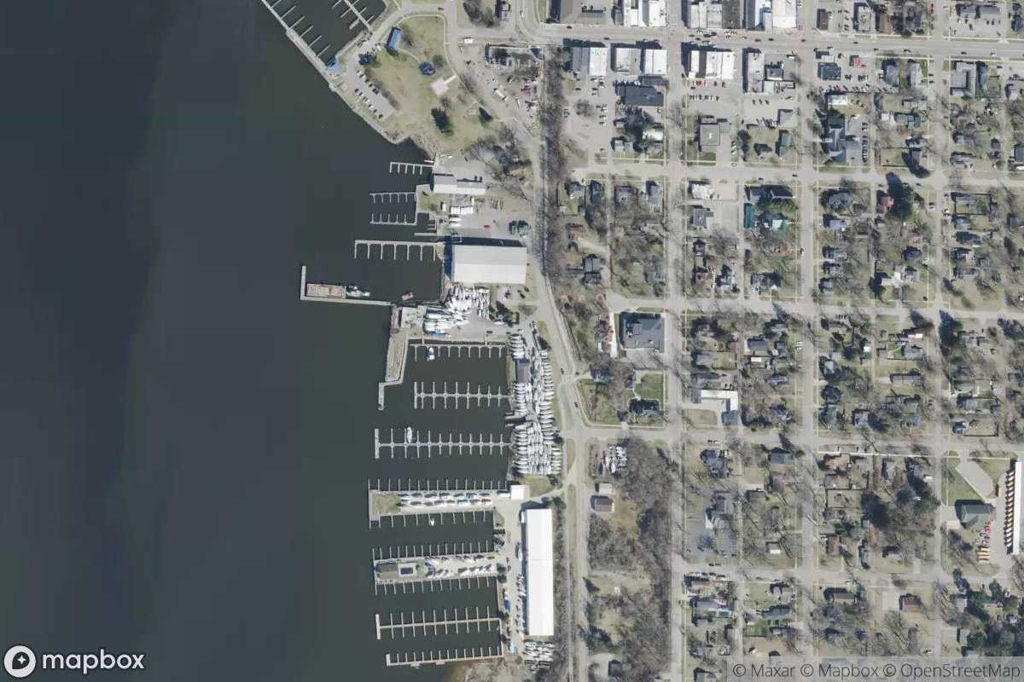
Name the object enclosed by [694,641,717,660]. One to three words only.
house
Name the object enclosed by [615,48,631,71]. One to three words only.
building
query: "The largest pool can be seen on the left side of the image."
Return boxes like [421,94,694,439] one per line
[398,564,417,578]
